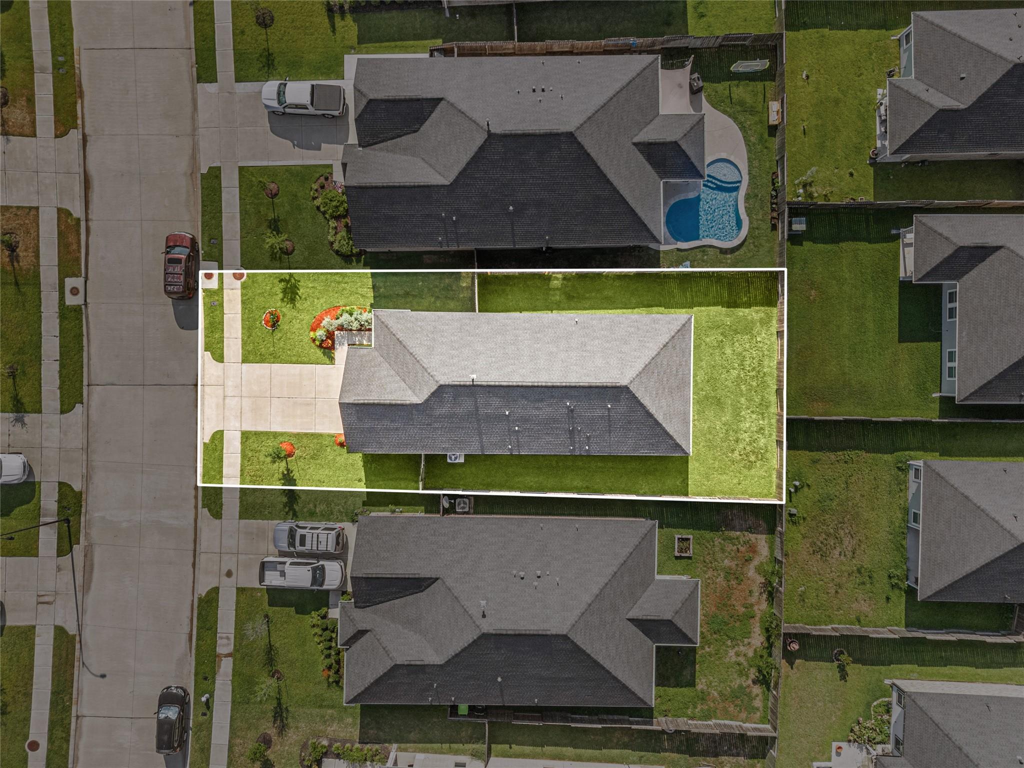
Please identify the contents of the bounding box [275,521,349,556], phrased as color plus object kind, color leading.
gray car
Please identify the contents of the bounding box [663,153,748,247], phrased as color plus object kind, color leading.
blue swimming pool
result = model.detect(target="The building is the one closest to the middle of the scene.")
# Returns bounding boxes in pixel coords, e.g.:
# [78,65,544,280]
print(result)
[339,310,694,456]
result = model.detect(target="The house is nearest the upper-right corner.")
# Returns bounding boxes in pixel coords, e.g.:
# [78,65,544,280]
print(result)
[883,9,1024,160]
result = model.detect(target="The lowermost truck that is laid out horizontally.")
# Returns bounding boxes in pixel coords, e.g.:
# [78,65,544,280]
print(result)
[258,555,347,592]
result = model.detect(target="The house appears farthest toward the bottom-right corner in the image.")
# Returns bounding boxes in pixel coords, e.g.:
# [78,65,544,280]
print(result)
[874,679,1024,768]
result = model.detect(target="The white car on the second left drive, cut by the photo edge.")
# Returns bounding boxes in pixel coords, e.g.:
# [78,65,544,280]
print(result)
[0,453,32,487]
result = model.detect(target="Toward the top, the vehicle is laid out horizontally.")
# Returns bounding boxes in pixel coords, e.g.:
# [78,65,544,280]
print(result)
[263,78,348,117]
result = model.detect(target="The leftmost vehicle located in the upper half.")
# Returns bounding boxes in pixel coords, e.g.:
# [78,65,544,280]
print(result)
[161,233,198,301]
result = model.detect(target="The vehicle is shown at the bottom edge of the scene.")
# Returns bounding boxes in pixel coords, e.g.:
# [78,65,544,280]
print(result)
[155,684,190,753]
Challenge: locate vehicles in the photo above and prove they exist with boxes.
[275,521,349,556]
[161,233,198,301]
[0,453,32,487]
[263,78,348,117]
[155,684,190,753]
[258,555,347,592]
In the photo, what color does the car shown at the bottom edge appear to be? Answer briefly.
black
